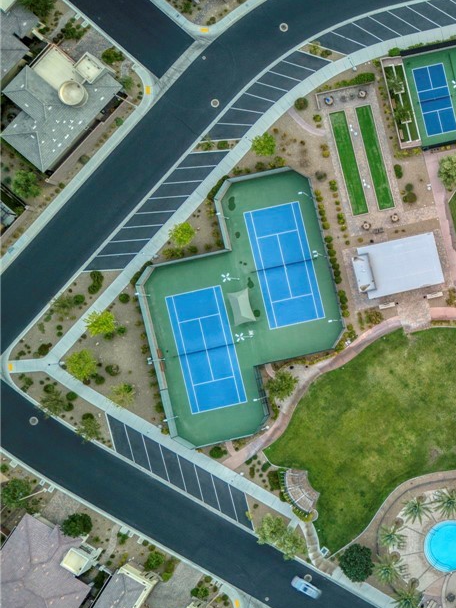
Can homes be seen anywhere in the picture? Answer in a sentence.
Yes, the image includes a home.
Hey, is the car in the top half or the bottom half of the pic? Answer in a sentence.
It is in the bottom half that the car appears.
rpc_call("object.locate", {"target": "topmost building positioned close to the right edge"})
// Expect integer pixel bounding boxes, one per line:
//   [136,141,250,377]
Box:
[352,232,444,299]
